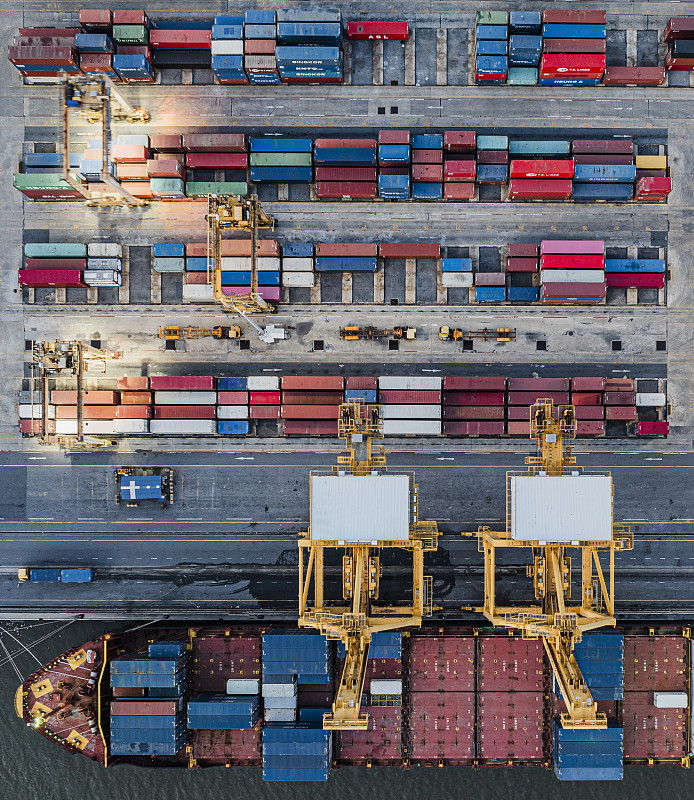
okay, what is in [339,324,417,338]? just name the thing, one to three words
vehicle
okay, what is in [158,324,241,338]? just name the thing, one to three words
vehicle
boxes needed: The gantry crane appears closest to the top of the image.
[54,71,145,206]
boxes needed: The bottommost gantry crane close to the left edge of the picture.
[30,335,124,448]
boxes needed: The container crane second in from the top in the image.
[204,187,281,311]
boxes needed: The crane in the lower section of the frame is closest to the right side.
[461,392,635,736]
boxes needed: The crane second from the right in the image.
[295,392,442,736]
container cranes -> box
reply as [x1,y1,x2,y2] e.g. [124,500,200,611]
[204,187,281,311]
[54,71,145,206]
[295,392,442,736]
[461,392,635,736]
[30,335,124,448]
